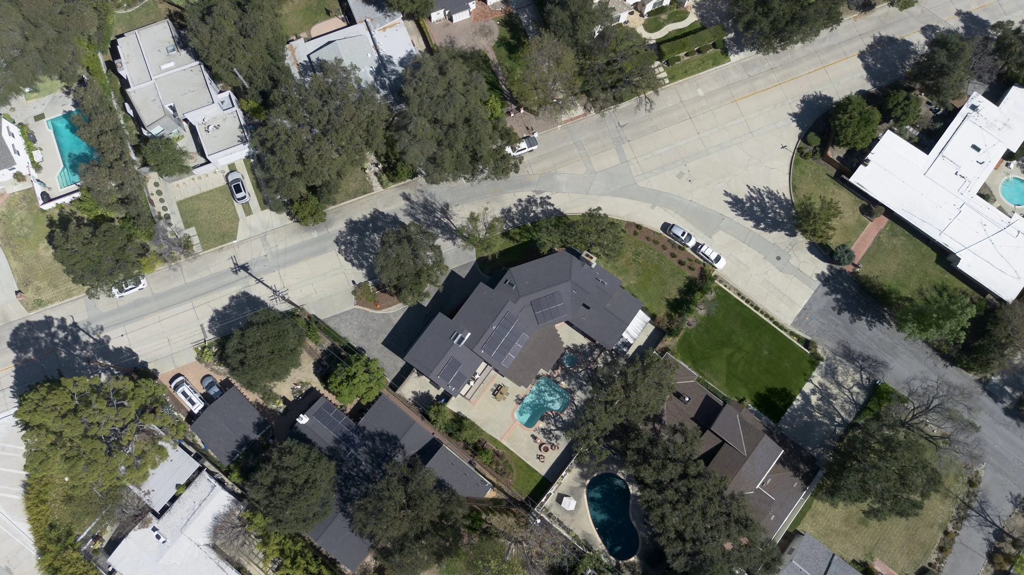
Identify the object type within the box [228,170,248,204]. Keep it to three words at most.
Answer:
car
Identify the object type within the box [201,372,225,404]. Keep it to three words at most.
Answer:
car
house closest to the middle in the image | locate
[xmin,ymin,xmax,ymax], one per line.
[405,249,643,397]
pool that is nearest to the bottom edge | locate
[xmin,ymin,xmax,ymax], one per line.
[584,470,642,562]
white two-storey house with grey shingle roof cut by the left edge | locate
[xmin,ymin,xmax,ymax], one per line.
[0,116,38,193]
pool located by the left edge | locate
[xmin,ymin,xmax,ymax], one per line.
[43,104,109,191]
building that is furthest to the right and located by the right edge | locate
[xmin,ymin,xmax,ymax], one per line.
[849,86,1024,303]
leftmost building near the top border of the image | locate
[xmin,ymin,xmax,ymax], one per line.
[113,19,259,168]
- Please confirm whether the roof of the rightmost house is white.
Yes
